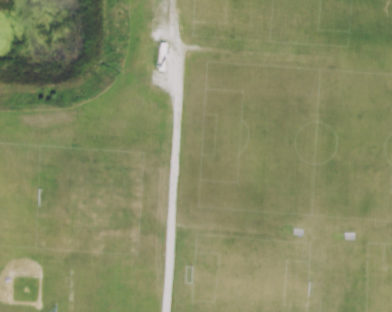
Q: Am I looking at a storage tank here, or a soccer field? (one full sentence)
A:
Visible in the photo is a soccer field.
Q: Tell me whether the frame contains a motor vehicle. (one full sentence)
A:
No, I can't see a single motor vehicle in this photo.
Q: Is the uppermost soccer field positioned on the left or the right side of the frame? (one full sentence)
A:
The uppermost soccer field is on the right side of the image.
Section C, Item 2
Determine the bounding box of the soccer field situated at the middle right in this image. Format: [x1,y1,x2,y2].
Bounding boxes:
[199,62,392,222]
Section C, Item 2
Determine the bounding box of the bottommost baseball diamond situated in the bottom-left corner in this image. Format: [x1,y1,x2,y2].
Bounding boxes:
[0,258,44,310]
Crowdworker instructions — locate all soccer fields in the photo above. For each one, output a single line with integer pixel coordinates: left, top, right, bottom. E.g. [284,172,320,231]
[194,0,353,48]
[199,62,392,222]
[0,142,40,250]
[38,146,145,254]
[192,235,311,312]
